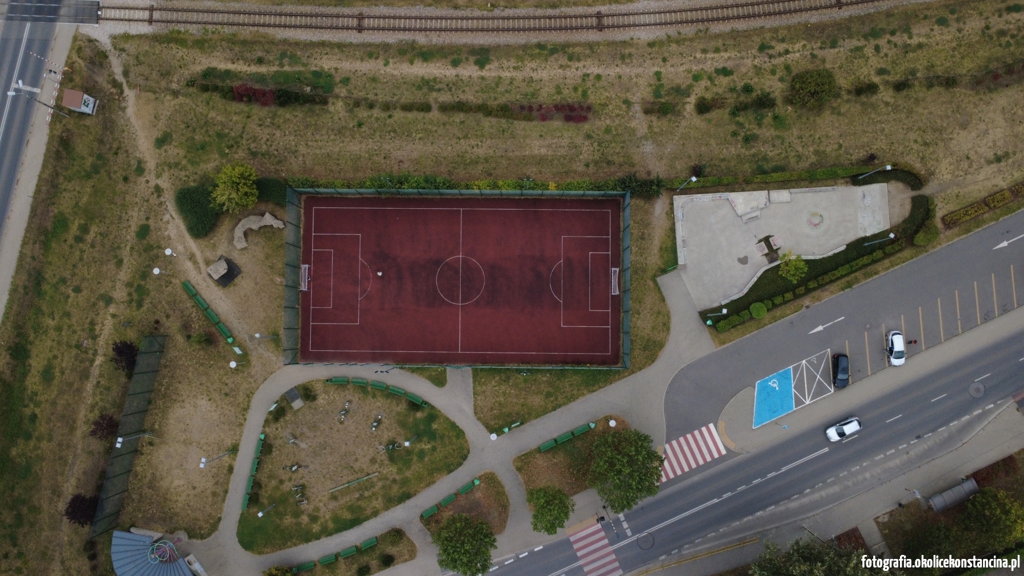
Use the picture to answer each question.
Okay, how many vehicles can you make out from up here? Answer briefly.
3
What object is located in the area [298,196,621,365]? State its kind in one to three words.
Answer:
sports field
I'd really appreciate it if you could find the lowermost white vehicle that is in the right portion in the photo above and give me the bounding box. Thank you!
[826,416,863,441]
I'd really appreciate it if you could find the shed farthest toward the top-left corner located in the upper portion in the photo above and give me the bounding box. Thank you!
[62,89,100,115]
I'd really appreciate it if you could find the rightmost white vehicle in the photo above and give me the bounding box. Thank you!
[881,331,908,366]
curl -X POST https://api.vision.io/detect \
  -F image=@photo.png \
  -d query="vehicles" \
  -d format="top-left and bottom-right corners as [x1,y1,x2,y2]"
[826,416,863,441]
[881,331,908,366]
[831,354,852,388]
